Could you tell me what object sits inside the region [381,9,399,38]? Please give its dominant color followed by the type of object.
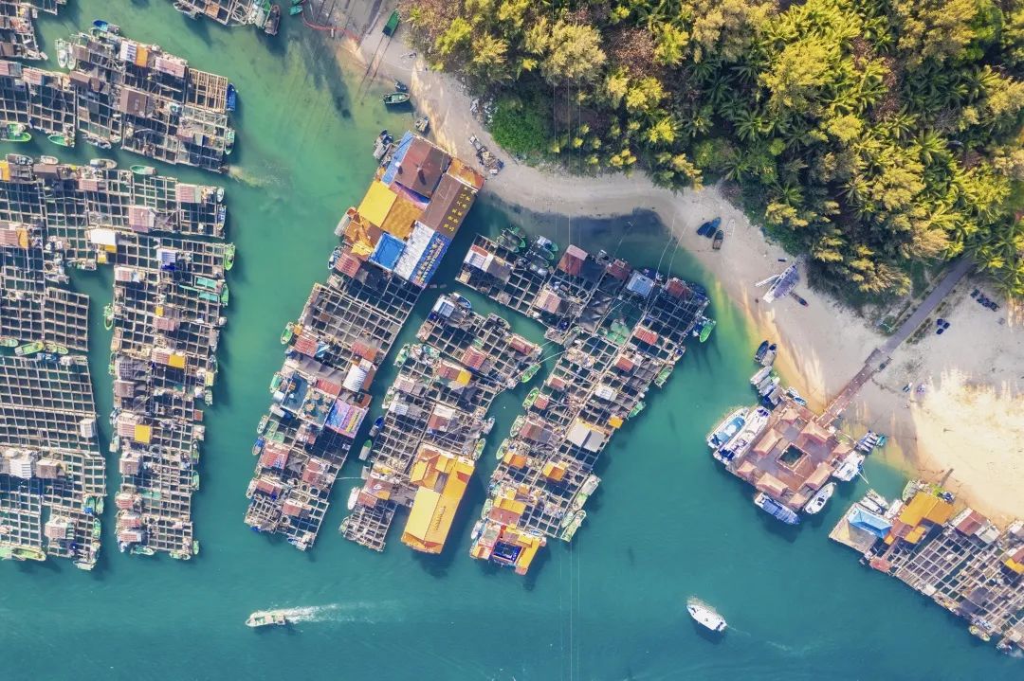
green boat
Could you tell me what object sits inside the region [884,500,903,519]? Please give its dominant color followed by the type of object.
white boat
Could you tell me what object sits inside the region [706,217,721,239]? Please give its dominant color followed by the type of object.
blue boat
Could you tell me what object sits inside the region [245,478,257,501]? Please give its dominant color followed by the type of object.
white boat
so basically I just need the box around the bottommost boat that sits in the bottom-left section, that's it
[246,614,288,626]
